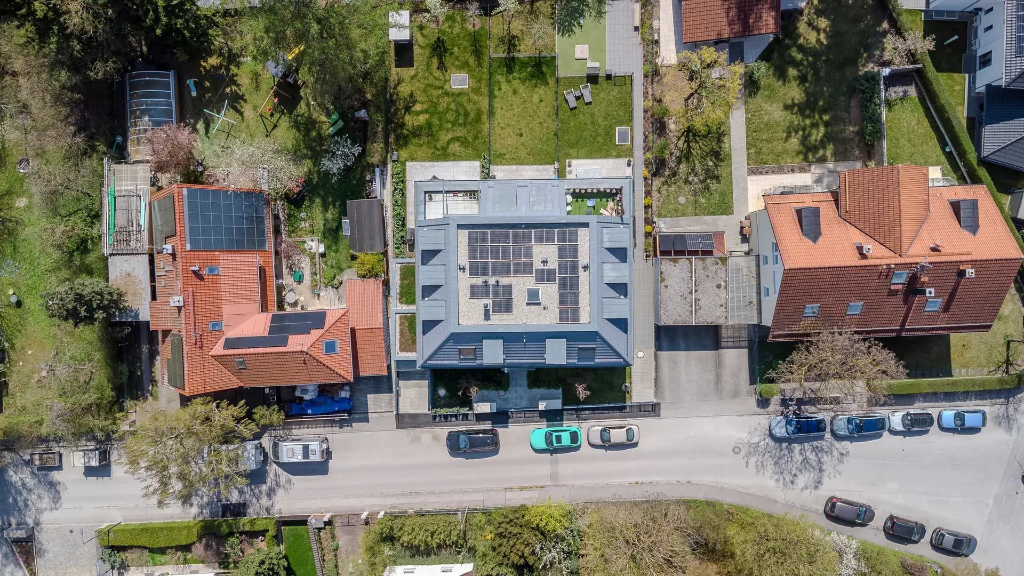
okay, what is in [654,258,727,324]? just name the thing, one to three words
building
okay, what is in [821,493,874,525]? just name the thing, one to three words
car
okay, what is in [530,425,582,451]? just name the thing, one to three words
car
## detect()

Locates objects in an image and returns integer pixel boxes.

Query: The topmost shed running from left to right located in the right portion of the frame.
[680,0,781,49]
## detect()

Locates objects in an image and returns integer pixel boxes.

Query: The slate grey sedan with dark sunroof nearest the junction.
[927,525,977,557]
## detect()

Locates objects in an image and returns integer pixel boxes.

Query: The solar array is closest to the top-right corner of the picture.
[660,233,714,249]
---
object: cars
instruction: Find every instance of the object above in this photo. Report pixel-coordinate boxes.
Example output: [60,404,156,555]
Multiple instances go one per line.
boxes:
[936,408,986,431]
[821,493,874,525]
[886,409,934,433]
[446,427,499,454]
[768,414,826,440]
[880,512,926,544]
[587,423,639,447]
[530,425,582,451]
[829,413,887,438]
[927,525,977,557]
